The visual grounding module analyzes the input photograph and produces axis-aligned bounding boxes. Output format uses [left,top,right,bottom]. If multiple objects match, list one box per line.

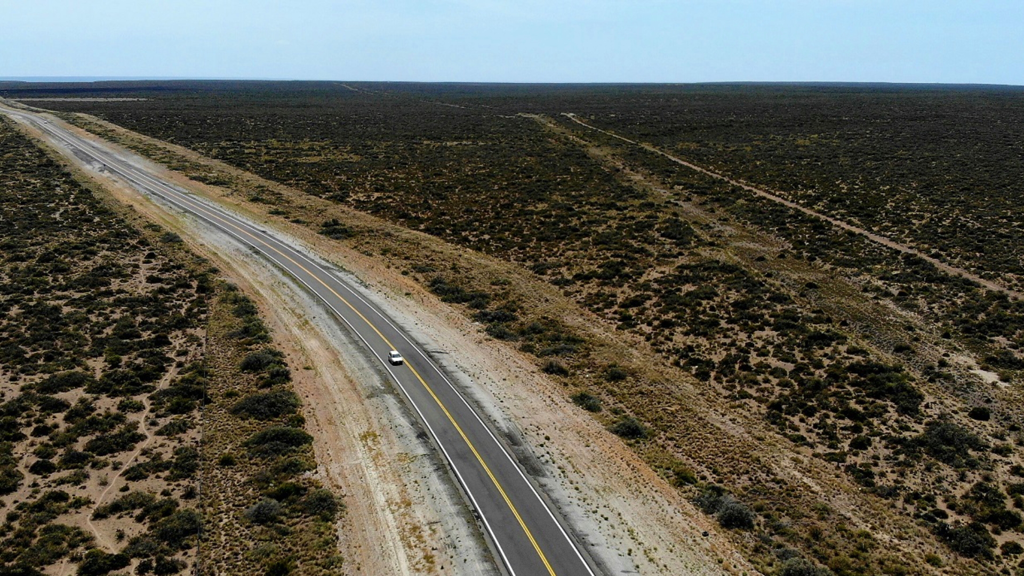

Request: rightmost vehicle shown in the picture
[389,350,403,365]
